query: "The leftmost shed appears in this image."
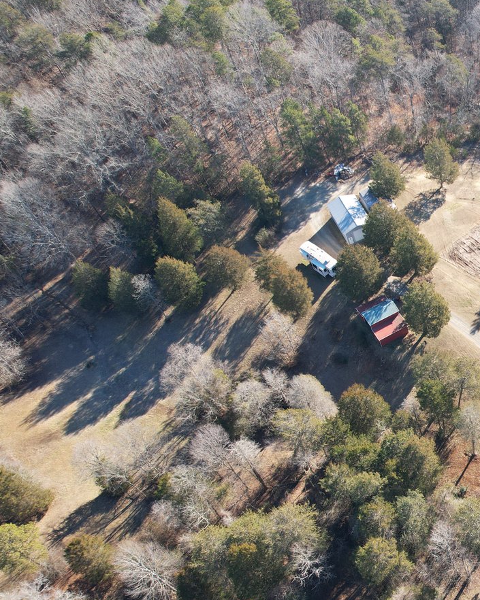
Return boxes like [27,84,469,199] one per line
[326,194,368,245]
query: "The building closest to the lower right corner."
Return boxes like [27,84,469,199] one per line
[357,297,411,352]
